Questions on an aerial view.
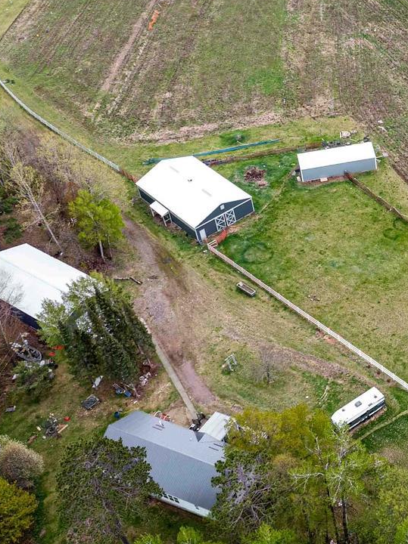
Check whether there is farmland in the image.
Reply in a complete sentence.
Yes, there's farmland in this view.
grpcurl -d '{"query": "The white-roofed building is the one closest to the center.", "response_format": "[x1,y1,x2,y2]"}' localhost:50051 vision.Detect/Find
[136,155,254,241]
